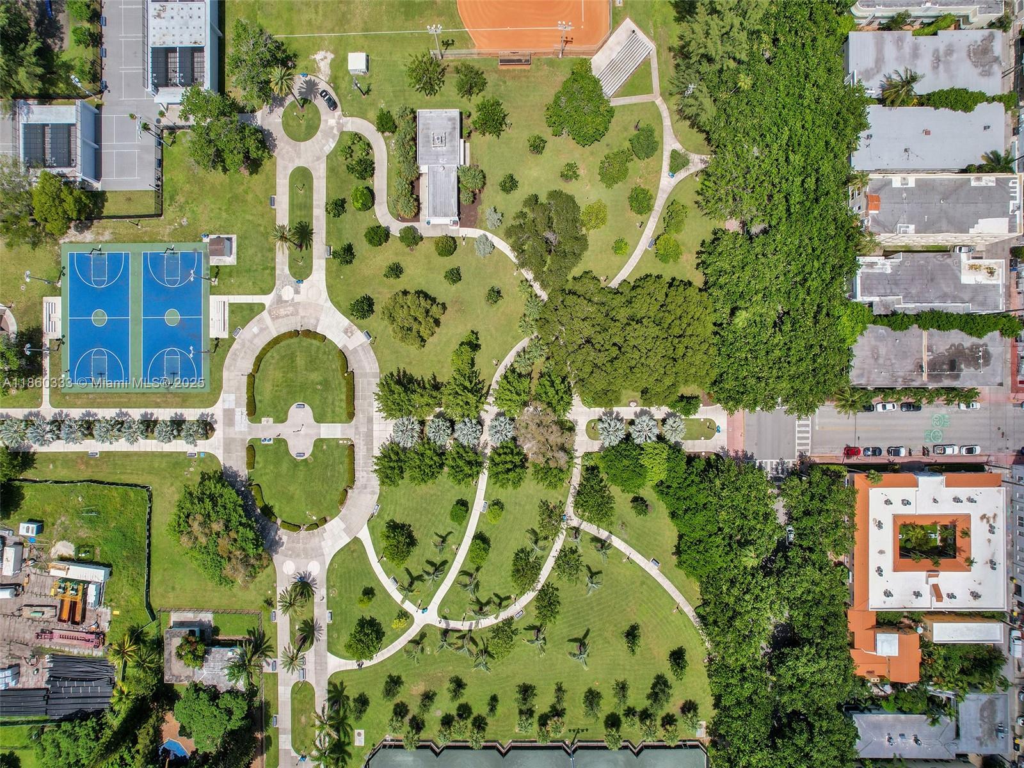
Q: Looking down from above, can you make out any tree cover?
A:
Yes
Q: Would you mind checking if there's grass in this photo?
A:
Yes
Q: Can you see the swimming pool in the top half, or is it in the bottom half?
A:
bottom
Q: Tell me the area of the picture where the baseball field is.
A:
top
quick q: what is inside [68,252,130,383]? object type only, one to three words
basketball court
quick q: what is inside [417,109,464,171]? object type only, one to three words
building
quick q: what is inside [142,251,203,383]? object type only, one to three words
basketball court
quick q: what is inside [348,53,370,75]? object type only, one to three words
shed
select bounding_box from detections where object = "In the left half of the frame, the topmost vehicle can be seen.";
[318,86,337,109]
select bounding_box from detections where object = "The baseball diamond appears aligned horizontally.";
[281,0,609,54]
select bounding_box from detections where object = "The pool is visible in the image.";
[157,737,189,768]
